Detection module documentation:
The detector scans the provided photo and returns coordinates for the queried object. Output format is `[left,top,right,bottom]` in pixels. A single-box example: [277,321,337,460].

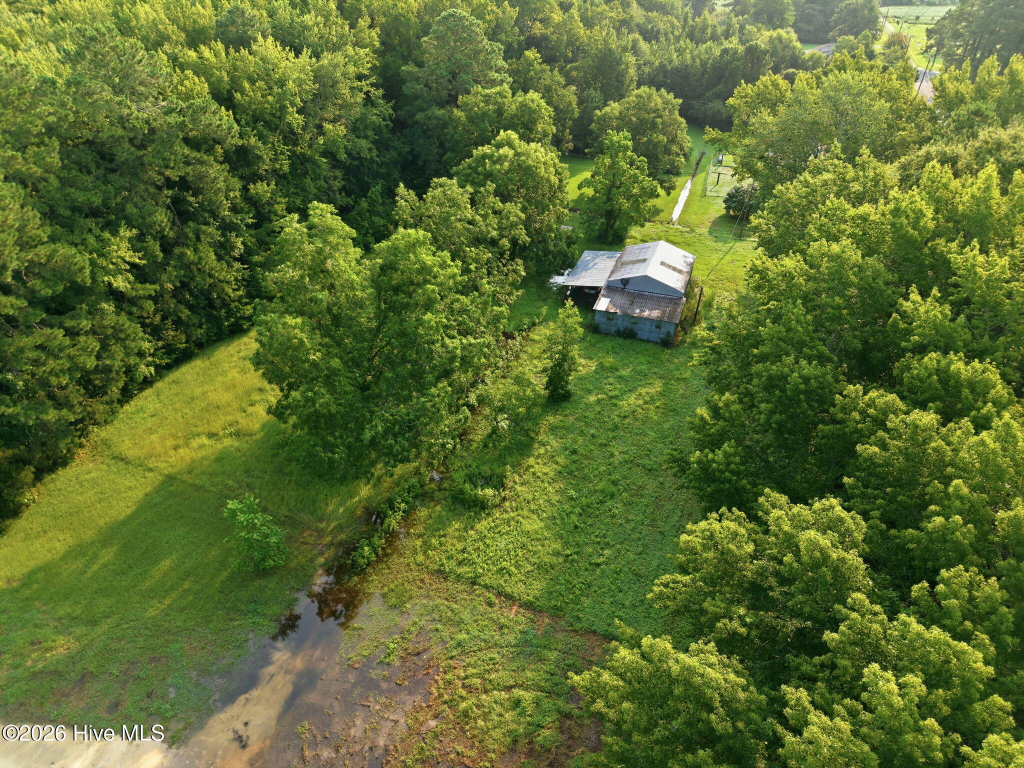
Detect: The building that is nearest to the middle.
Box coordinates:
[563,240,696,341]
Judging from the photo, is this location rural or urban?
rural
